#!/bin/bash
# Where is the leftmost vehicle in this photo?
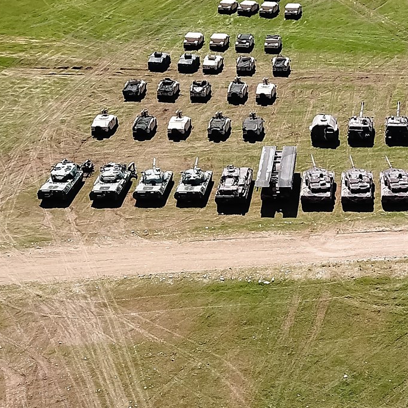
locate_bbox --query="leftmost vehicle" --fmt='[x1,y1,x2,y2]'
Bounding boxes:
[40,155,97,199]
